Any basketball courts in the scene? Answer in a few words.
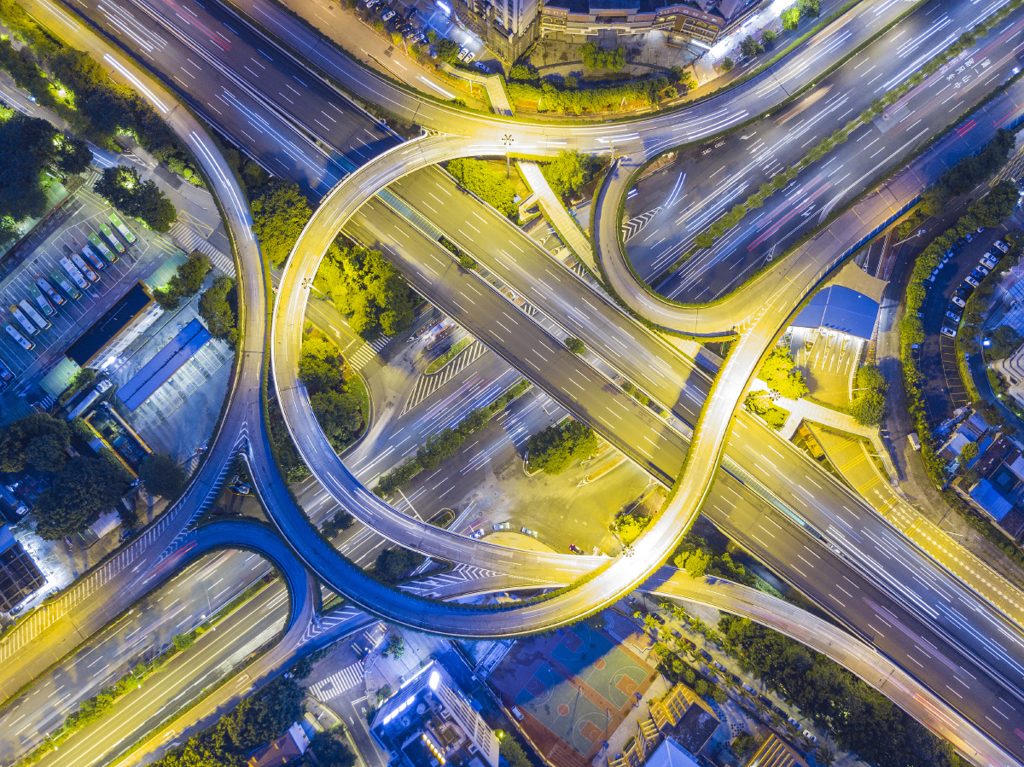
Yes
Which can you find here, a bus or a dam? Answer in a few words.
bus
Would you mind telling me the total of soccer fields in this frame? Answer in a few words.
0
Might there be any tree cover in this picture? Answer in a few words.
Yes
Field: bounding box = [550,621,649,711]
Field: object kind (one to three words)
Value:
basketball court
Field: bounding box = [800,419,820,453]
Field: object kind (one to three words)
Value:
vehicle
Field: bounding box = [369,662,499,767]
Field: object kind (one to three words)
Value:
building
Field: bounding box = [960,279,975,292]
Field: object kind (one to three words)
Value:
vehicle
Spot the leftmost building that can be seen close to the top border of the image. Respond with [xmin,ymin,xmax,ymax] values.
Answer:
[474,0,546,64]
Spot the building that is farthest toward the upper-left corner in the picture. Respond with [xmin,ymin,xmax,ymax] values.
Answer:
[63,281,158,368]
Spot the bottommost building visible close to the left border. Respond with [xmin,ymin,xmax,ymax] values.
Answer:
[0,538,59,622]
